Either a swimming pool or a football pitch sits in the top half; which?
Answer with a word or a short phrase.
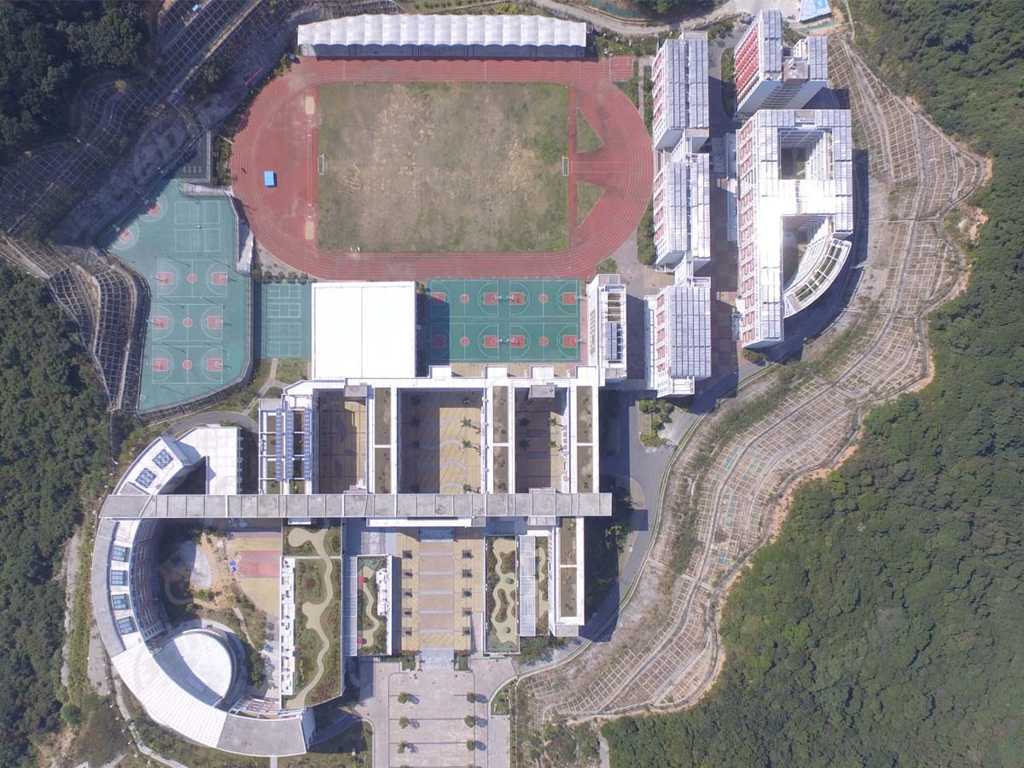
football pitch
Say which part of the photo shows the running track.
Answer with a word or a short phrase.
top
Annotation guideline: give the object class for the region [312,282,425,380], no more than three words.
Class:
building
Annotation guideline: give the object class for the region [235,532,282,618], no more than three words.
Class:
sports court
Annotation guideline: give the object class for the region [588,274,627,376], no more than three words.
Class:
building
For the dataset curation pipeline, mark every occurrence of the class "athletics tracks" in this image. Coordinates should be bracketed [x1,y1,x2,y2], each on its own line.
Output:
[230,56,650,280]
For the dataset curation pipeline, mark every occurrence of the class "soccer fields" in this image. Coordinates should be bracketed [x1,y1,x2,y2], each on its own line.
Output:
[317,82,569,253]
